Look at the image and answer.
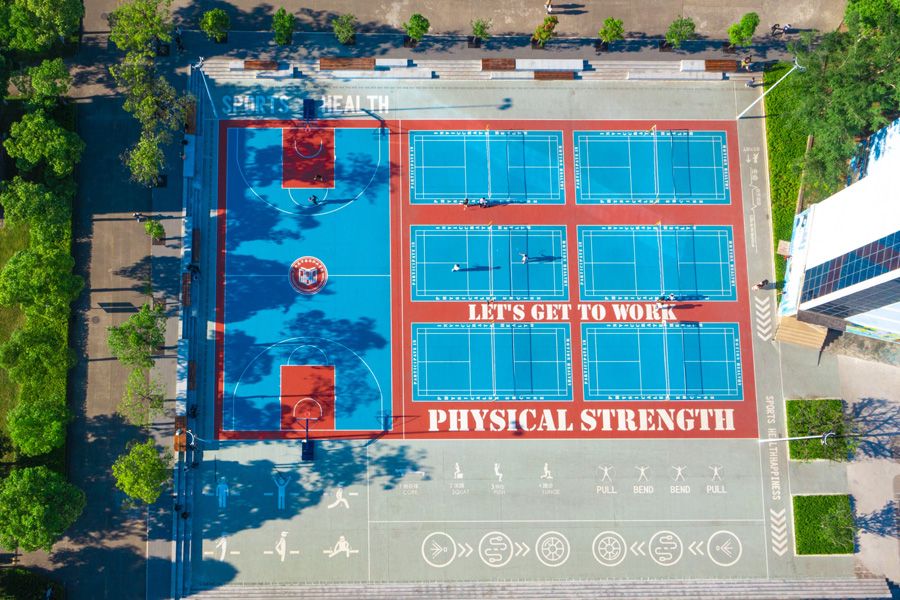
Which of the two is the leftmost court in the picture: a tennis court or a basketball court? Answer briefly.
basketball court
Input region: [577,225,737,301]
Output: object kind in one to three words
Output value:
sports court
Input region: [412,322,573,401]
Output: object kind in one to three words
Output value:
sports court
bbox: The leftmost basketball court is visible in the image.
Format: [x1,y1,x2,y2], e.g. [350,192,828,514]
[222,128,392,430]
